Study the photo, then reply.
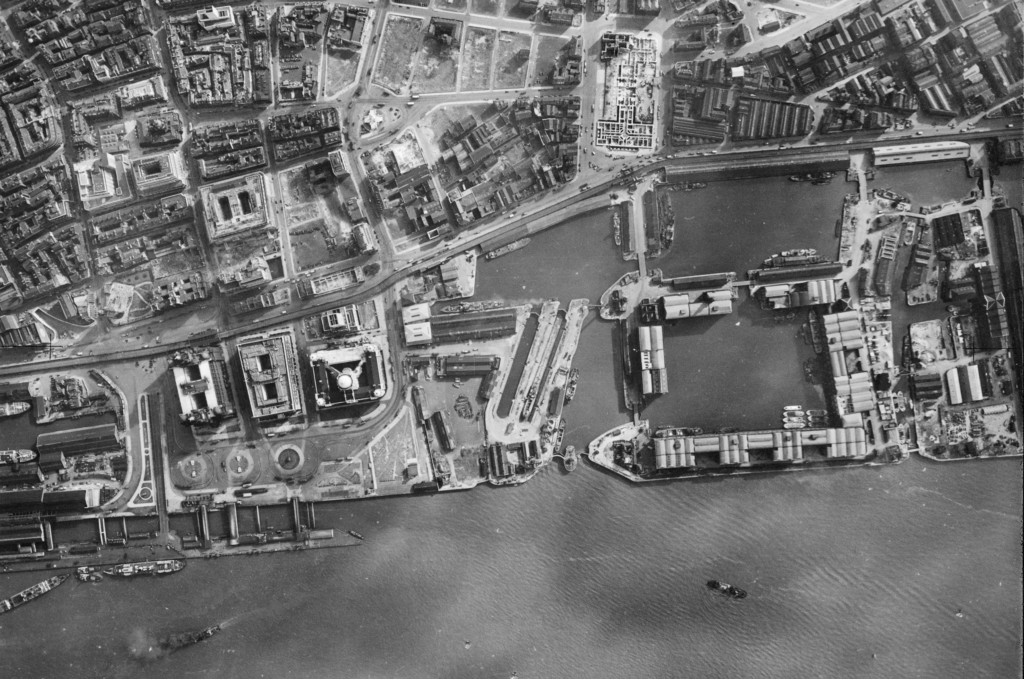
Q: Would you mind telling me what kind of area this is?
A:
port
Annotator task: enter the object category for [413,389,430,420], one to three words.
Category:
shed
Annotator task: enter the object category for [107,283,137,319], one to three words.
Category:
building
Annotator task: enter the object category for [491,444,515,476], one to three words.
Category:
shed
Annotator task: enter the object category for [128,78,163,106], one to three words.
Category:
building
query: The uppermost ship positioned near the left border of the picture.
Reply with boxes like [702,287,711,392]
[0,399,32,419]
